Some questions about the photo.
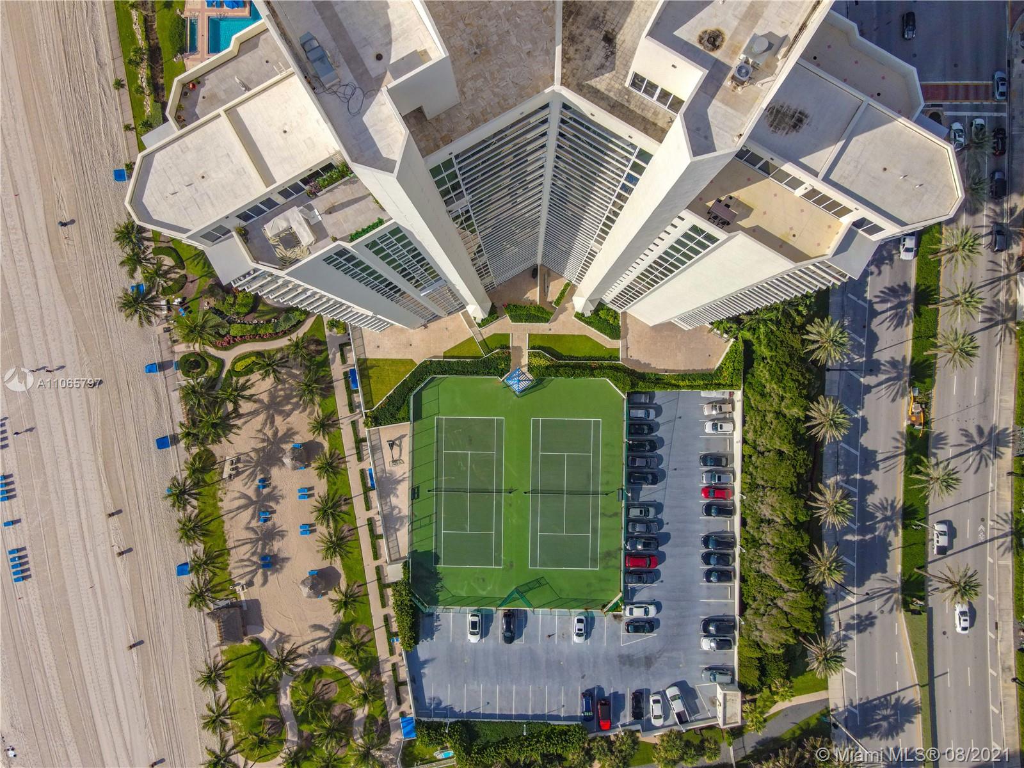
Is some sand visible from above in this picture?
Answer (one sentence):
Yes, the picture does contain sand.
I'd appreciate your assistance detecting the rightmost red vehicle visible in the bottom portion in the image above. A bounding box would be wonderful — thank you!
[701,486,732,500]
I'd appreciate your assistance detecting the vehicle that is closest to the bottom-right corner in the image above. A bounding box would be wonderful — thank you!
[953,602,970,633]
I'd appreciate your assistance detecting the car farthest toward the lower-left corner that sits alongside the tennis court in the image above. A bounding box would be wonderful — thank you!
[467,611,481,642]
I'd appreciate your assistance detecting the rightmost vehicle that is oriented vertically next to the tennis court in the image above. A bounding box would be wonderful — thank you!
[573,613,587,643]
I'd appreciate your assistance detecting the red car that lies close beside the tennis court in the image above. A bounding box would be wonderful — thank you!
[626,554,657,569]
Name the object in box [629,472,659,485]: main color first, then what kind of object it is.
black vehicle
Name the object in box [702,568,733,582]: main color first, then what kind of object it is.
black car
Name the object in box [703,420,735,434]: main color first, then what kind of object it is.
white car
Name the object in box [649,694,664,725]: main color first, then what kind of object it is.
white car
